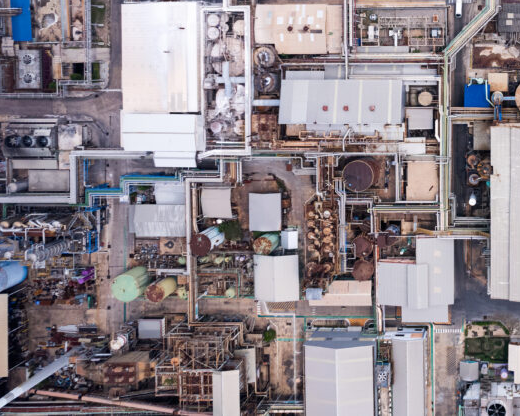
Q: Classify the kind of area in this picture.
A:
industrial area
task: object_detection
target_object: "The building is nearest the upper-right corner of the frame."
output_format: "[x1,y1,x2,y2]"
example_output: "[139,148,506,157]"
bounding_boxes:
[498,3,520,33]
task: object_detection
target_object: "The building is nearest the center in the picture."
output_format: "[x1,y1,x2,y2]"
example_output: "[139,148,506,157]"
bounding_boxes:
[249,191,288,231]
